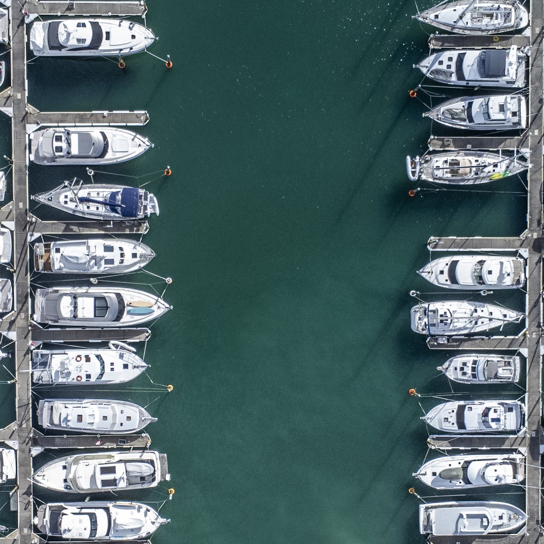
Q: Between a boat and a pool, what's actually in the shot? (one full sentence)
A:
Looking from above, you can make out a boat.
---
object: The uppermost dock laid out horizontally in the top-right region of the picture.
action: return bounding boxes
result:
[427,25,530,59]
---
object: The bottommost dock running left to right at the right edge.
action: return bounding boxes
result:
[426,524,526,544]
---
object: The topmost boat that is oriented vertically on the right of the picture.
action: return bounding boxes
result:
[406,152,420,180]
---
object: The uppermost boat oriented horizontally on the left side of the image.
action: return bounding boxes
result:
[31,18,160,60]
